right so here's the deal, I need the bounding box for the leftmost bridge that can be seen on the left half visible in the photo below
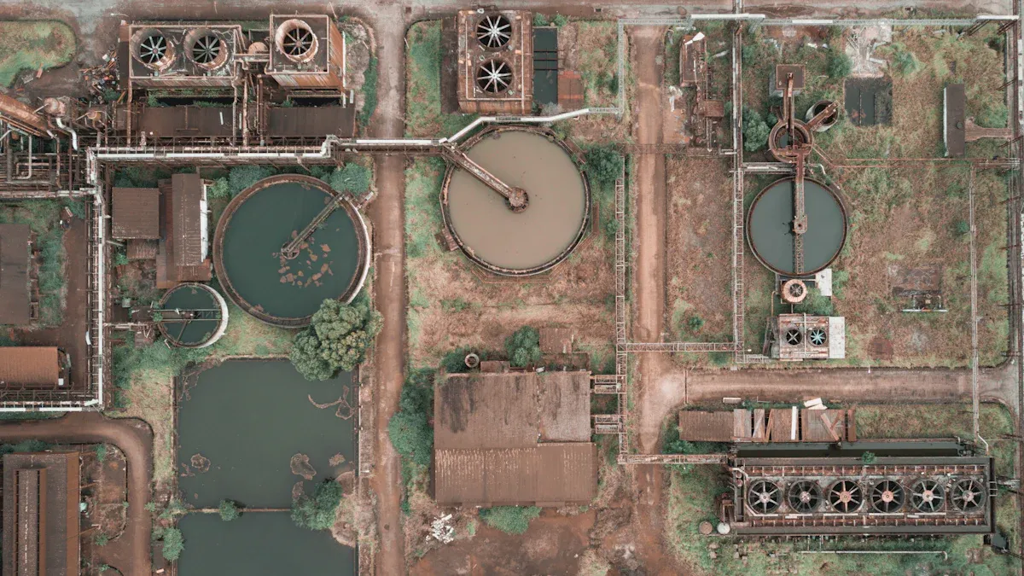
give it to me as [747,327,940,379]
[285,194,343,256]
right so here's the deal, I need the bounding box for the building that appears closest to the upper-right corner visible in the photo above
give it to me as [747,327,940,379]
[945,84,965,155]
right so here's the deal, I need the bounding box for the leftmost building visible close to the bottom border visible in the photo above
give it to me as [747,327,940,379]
[3,451,85,576]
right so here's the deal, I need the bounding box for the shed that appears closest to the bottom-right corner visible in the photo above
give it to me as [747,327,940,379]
[677,410,734,441]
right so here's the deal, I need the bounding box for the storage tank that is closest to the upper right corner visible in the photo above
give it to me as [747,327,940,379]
[801,98,842,135]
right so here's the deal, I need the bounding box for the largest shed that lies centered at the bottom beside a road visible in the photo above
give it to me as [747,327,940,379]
[434,371,597,507]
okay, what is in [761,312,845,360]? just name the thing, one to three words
cooling tower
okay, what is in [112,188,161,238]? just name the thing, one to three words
building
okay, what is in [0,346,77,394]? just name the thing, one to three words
shed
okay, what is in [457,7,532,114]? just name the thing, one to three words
cooling tower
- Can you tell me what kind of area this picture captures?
industrial area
